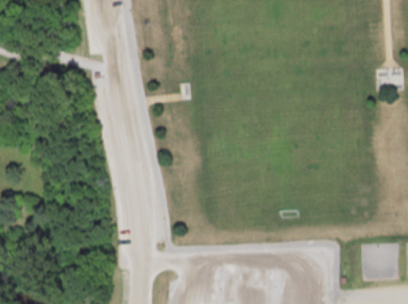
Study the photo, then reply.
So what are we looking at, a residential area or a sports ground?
sports ground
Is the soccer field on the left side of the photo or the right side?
right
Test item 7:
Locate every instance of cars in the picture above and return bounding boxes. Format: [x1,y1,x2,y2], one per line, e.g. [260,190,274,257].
[112,1,124,7]
[119,240,132,245]
[120,230,131,234]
